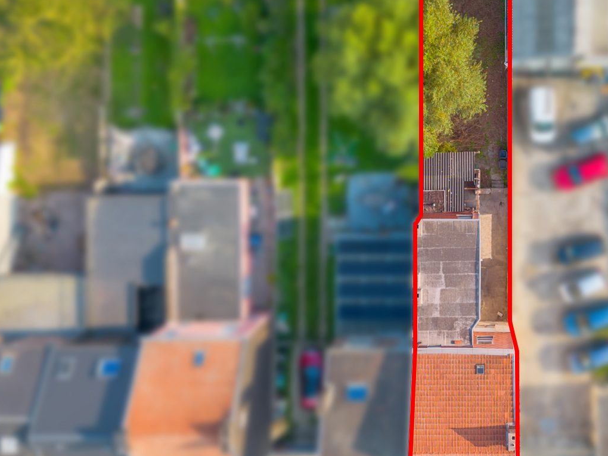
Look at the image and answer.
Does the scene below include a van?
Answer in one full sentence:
Yes, you can see a van in this photo.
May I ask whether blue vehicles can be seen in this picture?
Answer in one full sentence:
Yes, the picture does show a blue vehicle.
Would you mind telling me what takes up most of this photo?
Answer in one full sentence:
The scene is dominated by buildings.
